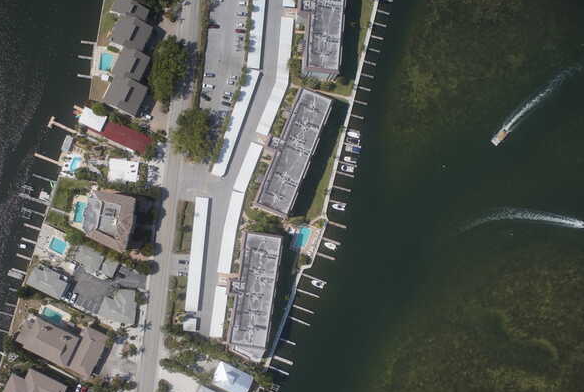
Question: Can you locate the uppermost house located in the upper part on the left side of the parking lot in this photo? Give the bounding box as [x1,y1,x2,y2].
[111,0,151,24]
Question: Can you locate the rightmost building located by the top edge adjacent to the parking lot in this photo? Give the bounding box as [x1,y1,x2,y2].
[298,0,346,80]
